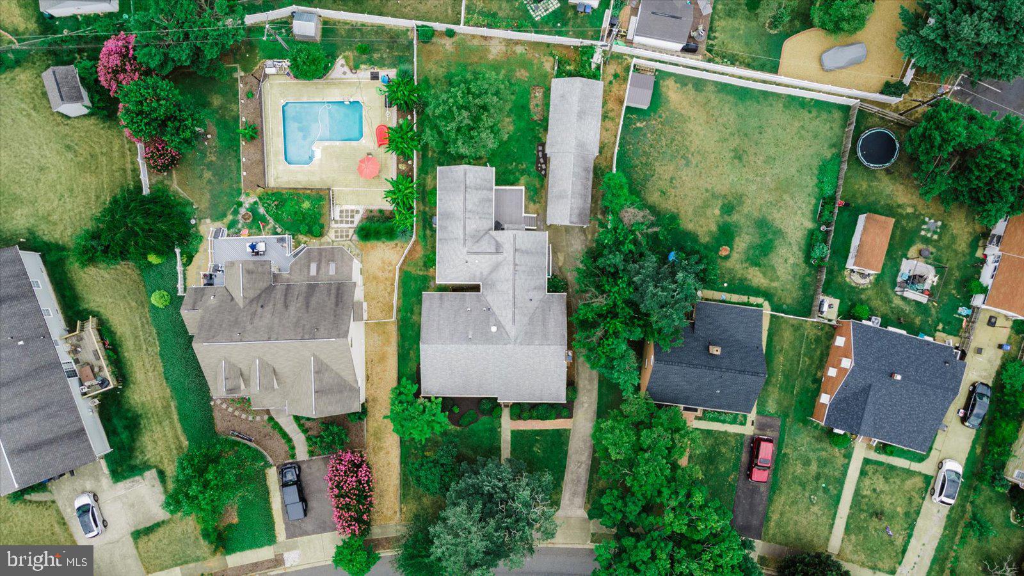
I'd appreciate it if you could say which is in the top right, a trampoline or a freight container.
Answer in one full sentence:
Visible in the top right is a trampoline.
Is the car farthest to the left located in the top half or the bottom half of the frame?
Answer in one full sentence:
The bottom half of the photo is where the car farthest to the left is.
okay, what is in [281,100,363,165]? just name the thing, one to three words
swimming pool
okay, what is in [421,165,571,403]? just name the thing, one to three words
house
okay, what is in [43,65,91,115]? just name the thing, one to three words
shed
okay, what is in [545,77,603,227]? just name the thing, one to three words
building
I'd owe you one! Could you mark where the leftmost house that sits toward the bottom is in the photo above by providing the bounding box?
[0,246,110,497]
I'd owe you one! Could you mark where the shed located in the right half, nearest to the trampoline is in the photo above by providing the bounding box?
[842,213,894,273]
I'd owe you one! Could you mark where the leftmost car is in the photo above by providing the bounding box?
[75,489,109,539]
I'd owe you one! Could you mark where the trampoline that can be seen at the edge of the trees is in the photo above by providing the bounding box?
[853,127,898,169]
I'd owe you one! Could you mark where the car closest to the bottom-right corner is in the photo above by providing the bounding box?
[925,456,961,507]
